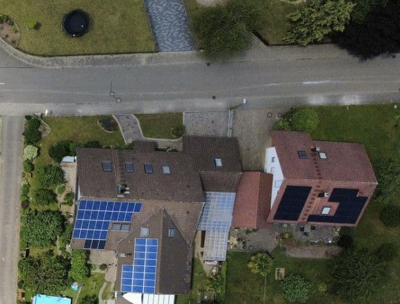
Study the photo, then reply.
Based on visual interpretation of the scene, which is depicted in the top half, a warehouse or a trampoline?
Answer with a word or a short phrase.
trampoline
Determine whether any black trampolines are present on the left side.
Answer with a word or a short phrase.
Yes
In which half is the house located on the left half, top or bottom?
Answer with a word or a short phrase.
bottom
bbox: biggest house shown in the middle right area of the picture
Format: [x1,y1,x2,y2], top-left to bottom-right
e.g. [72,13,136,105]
[258,130,378,226]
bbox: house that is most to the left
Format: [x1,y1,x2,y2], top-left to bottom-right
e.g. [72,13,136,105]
[69,135,241,304]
